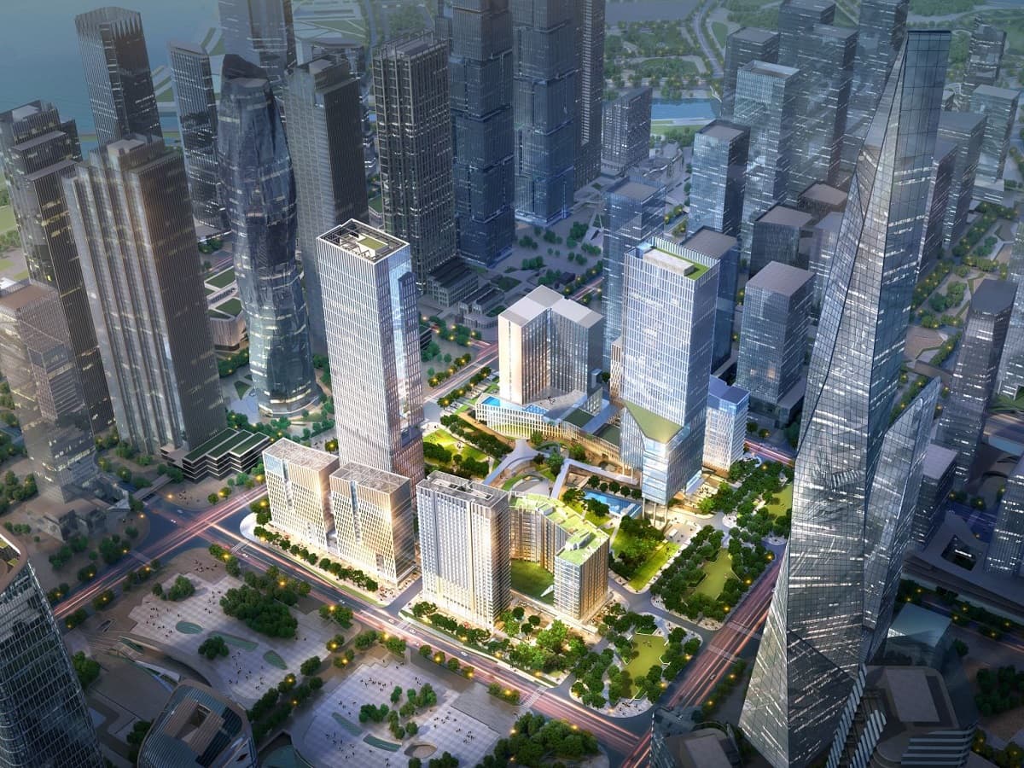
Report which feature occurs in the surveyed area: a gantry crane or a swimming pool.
swimming pool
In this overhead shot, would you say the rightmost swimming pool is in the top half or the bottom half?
bottom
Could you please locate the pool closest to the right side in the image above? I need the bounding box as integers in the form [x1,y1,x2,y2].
[584,488,643,519]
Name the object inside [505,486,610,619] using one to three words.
building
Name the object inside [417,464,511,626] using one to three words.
building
